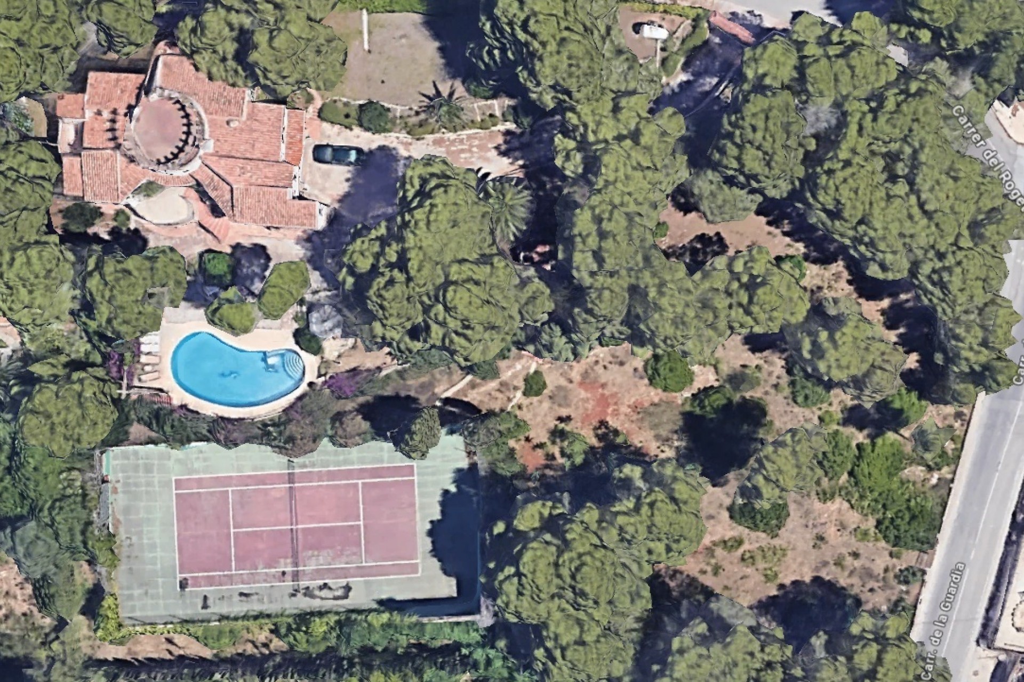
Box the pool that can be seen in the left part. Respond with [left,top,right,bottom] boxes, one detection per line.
[133,322,318,418]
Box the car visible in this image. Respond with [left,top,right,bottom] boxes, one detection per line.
[314,142,364,166]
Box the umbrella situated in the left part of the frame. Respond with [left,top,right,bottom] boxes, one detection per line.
[309,303,342,337]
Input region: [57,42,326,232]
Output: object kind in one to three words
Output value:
house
